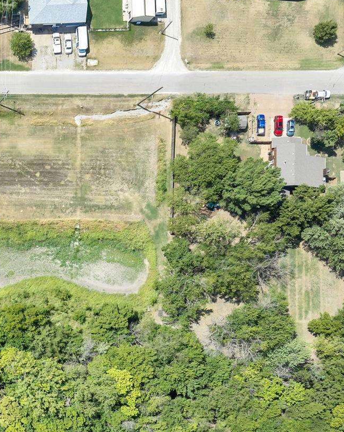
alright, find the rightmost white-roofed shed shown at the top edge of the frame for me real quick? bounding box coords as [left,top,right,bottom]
[125,0,155,24]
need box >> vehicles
[284,118,295,136]
[76,23,90,57]
[303,89,330,100]
[52,33,62,56]
[62,34,73,55]
[254,114,267,137]
[272,115,285,137]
